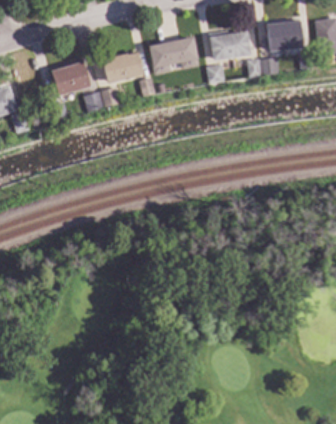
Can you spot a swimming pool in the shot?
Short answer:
No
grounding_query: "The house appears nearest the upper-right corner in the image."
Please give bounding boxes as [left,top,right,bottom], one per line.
[314,18,336,54]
